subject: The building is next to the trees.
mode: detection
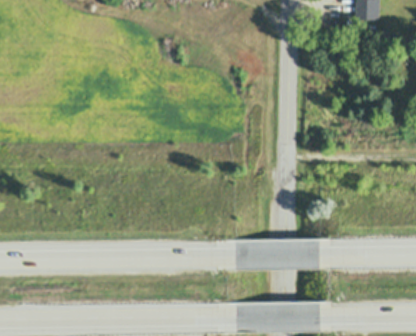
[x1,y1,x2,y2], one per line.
[356,0,380,20]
